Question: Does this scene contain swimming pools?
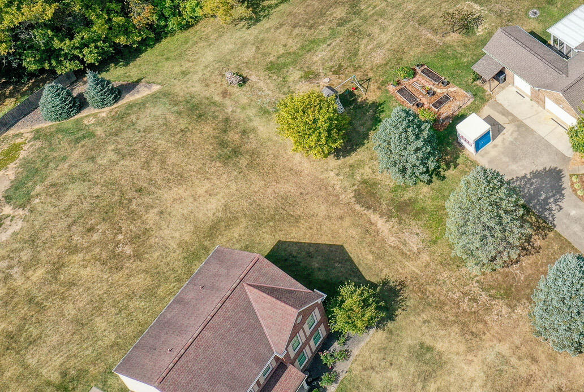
No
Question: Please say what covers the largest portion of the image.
grass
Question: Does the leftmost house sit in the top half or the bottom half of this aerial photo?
bottom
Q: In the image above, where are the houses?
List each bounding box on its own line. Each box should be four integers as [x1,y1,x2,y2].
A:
[471,3,584,136]
[111,244,329,392]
